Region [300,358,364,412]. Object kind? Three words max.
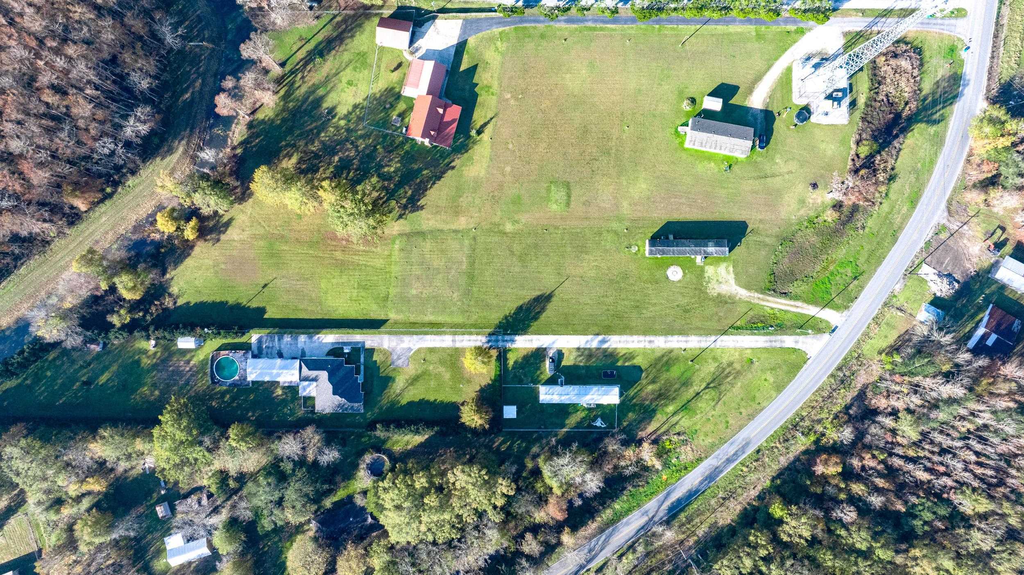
house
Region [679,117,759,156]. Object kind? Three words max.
house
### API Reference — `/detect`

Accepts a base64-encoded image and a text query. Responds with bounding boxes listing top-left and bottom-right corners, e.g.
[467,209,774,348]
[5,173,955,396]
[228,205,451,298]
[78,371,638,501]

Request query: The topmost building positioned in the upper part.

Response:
[376,17,413,52]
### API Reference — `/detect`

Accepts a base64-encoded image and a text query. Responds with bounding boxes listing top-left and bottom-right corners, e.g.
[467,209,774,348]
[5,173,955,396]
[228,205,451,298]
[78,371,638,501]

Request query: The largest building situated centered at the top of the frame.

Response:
[402,58,462,148]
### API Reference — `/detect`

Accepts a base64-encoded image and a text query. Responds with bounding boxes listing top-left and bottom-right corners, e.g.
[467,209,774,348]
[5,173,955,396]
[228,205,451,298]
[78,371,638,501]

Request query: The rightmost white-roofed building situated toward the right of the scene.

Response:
[988,256,1024,297]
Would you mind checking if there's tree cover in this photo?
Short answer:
Yes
